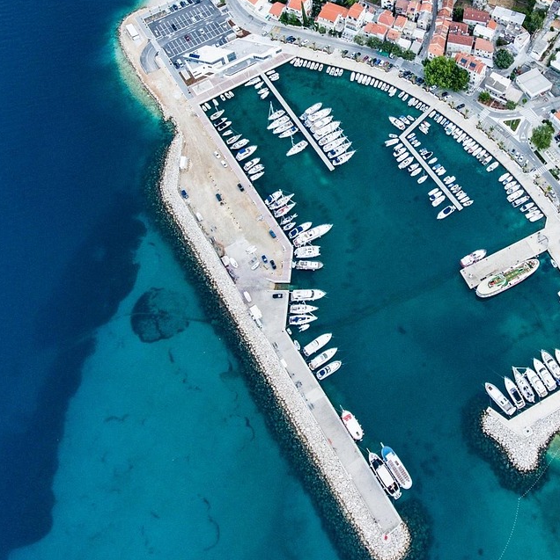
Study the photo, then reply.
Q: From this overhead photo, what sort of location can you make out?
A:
port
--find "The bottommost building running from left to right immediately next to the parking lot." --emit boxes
[183,40,283,83]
